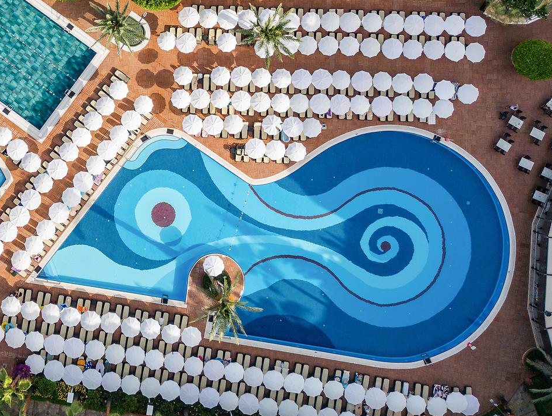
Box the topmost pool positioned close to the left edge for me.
[0,0,109,142]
